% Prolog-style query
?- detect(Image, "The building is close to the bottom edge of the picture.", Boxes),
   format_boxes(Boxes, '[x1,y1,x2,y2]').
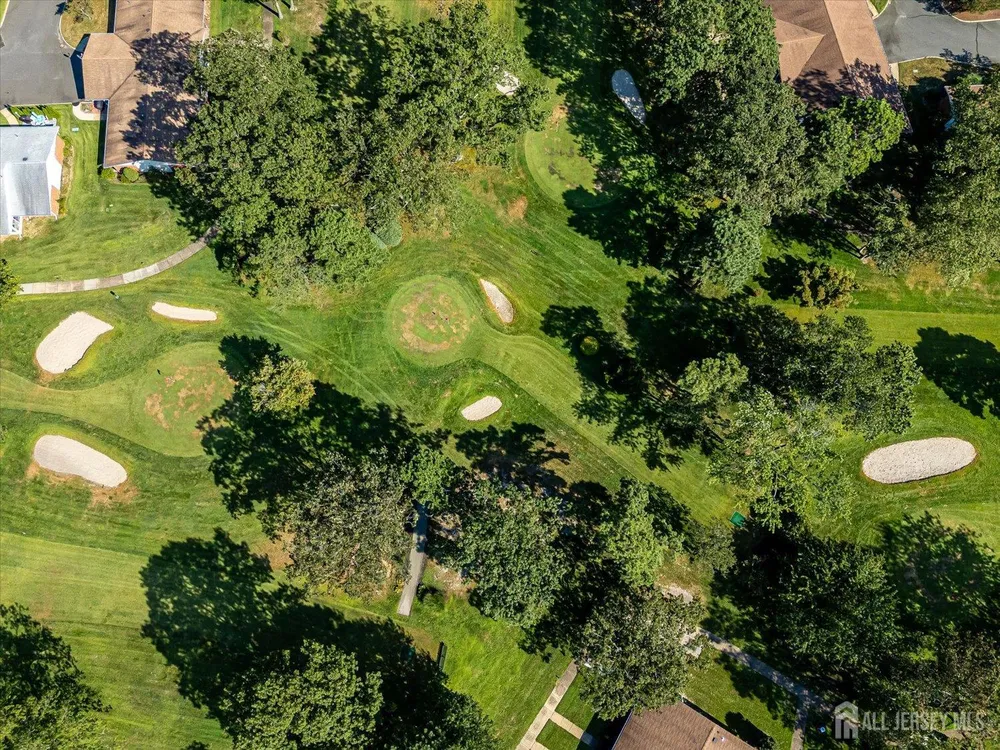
[607,675,779,750]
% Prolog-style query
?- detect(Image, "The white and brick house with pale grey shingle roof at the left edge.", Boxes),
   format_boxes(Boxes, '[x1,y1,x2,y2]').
[0,123,67,238]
